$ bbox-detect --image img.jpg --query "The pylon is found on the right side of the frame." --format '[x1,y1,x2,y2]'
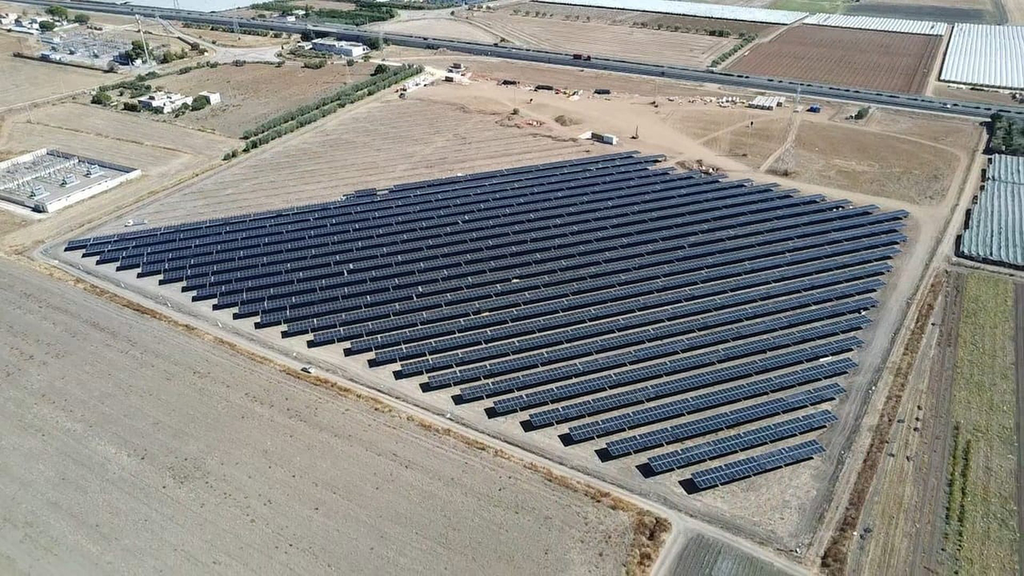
[773,82,806,177]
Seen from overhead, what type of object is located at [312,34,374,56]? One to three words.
building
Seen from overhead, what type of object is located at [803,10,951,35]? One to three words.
greenhouse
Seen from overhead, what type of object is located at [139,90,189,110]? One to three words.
house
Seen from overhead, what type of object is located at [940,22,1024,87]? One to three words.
greenhouse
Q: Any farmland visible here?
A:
Yes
